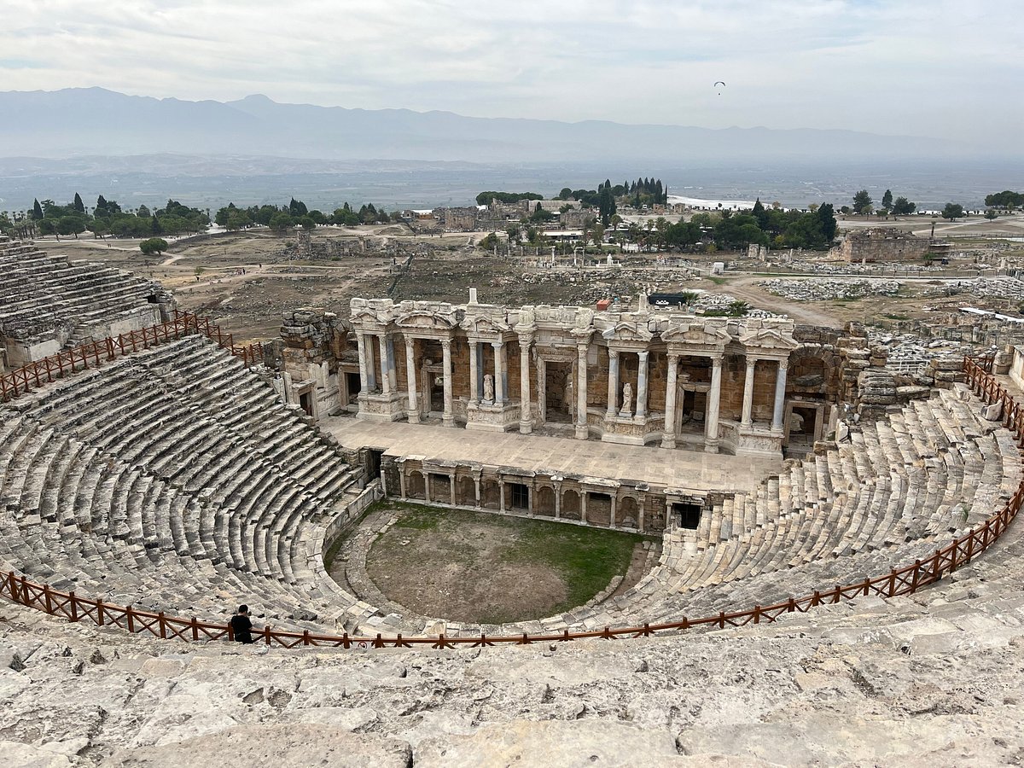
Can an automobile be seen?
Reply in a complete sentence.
No, there isn't any automobile down there.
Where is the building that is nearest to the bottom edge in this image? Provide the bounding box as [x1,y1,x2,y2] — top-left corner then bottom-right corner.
[345,285,812,458]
